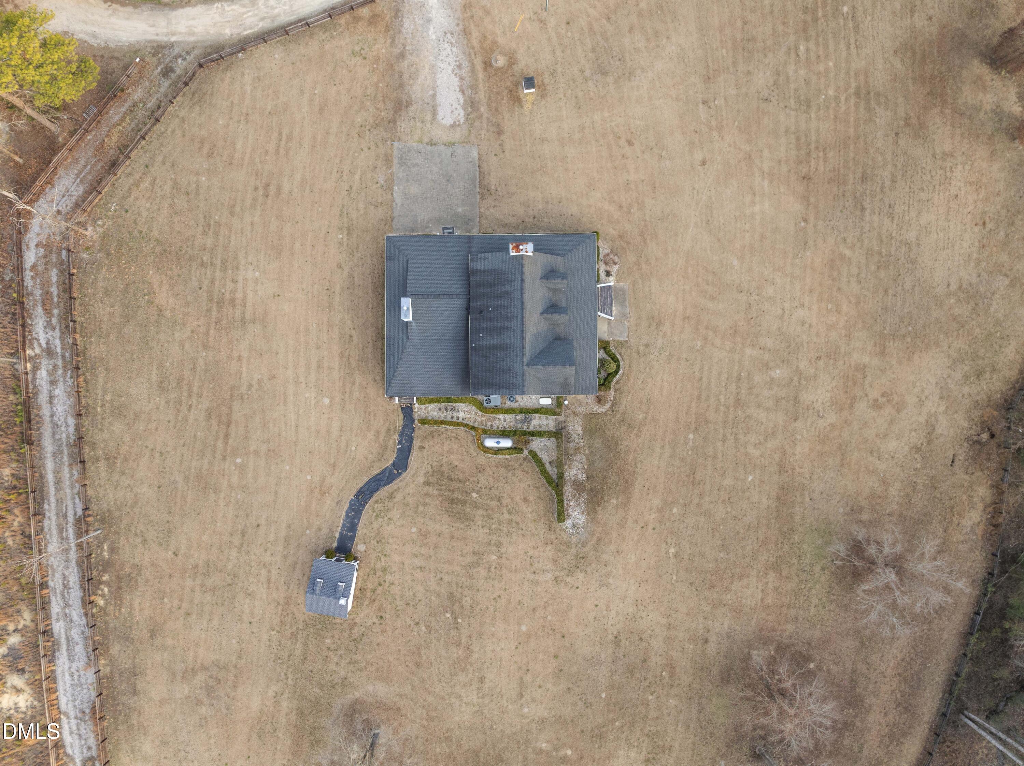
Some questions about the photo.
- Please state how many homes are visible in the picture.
2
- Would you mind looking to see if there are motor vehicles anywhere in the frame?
No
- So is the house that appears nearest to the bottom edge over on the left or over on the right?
left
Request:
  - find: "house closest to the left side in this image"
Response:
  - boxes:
[303,551,361,619]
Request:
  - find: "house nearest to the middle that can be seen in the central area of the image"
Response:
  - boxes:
[385,233,597,397]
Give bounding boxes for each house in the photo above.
[385,233,597,397]
[303,551,361,619]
